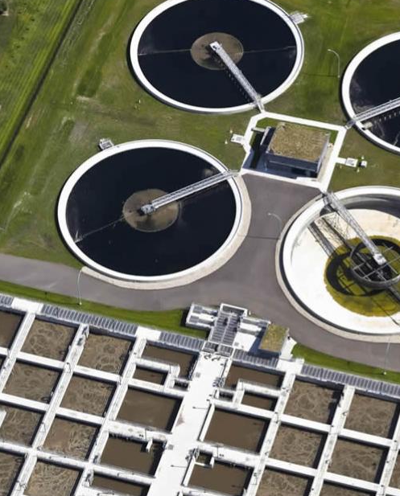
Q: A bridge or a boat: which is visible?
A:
bridge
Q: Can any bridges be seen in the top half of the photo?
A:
Yes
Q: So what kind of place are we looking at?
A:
industrial area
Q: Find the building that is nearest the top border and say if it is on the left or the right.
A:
right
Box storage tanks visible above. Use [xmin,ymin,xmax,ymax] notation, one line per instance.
[341,32,400,155]
[282,185,400,336]
[130,0,308,115]
[58,136,244,284]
